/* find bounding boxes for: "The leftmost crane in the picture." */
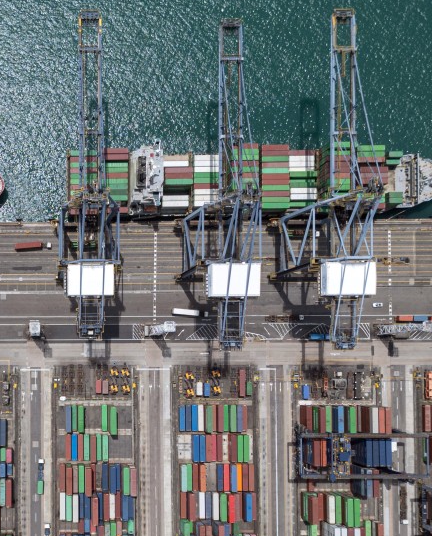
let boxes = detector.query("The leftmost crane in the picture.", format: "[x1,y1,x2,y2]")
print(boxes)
[49,9,121,347]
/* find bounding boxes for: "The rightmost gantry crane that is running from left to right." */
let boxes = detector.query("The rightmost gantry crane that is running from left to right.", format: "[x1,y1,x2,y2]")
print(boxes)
[297,423,428,480]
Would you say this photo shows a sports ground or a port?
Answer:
port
